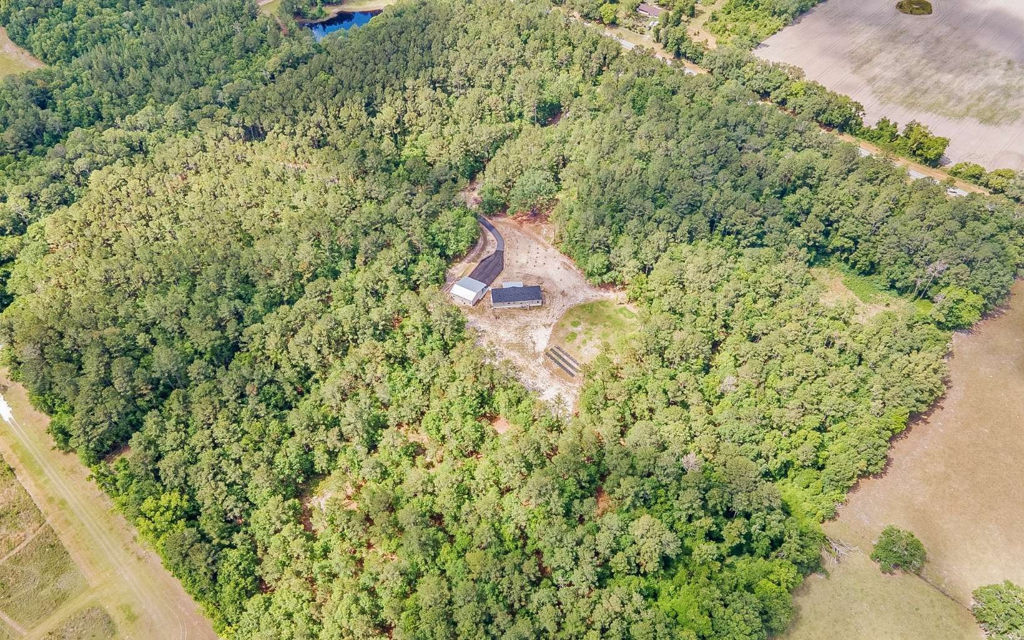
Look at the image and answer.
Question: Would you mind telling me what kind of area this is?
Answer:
forest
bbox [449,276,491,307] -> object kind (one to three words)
building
